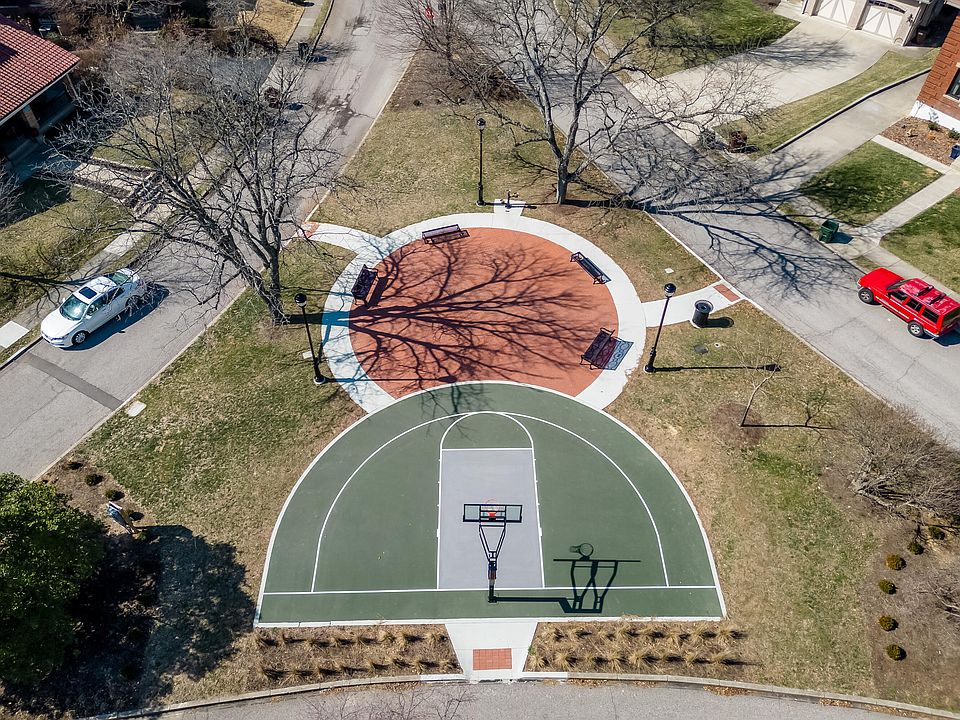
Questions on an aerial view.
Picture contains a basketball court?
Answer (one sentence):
Yes, there is a basketball court in the image.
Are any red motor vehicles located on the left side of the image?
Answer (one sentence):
No, no red motor vehicle appears on the left side of the image.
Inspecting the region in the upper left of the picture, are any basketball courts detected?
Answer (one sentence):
No, the scene shows no basketball court in the upper left of the picture.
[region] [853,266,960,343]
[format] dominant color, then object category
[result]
red car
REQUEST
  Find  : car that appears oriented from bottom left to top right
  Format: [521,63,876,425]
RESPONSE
[39,269,148,348]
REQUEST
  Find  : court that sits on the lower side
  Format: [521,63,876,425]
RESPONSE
[256,381,726,628]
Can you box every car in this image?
[39,269,148,348]
[853,266,960,343]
